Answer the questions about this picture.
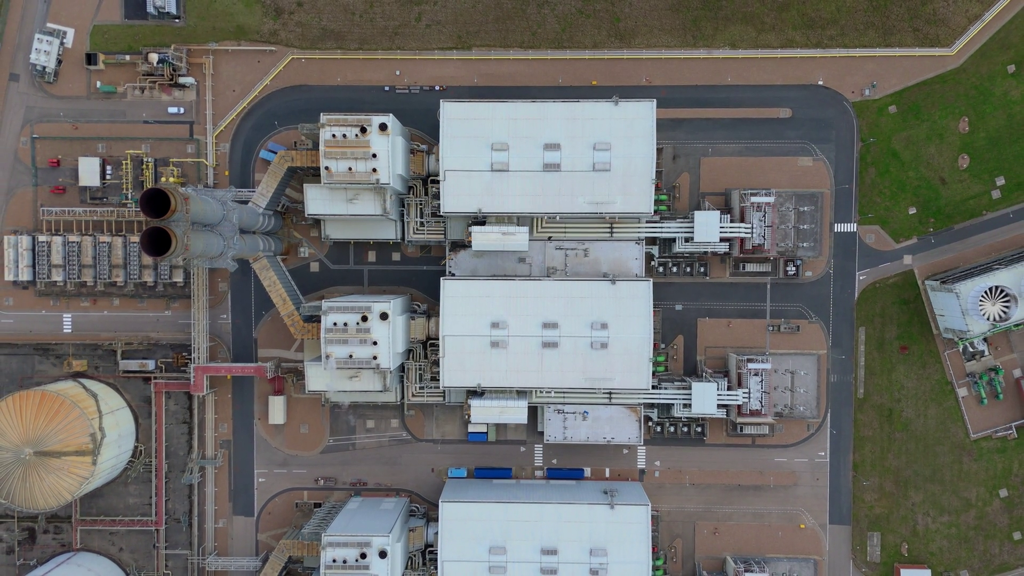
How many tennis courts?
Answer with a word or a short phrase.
0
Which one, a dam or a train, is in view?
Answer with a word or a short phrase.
train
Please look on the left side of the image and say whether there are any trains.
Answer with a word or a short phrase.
Yes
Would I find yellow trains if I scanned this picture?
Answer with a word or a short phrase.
Yes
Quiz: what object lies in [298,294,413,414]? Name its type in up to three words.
building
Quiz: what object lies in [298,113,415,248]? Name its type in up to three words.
building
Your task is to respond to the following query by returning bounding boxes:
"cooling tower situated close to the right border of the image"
[921,240,1024,339]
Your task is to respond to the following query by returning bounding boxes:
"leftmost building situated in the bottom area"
[269,395,286,424]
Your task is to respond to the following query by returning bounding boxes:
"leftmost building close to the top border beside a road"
[32,27,70,80]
